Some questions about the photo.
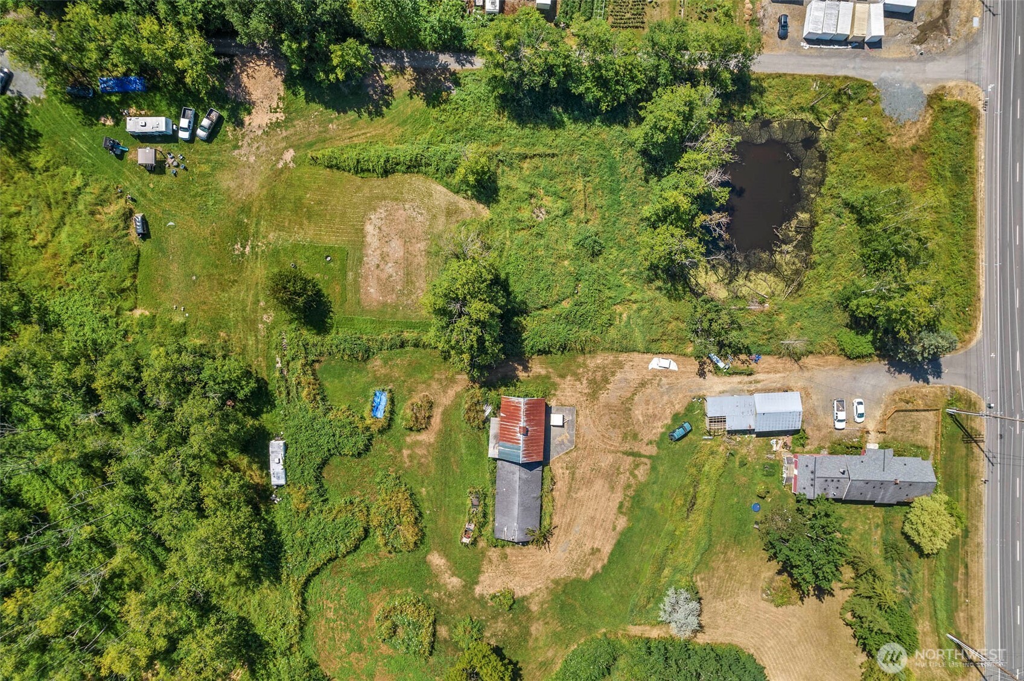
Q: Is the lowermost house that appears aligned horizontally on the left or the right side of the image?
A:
right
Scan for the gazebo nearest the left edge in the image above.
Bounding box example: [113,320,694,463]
[133,147,156,165]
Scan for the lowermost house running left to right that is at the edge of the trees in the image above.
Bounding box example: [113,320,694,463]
[791,443,941,505]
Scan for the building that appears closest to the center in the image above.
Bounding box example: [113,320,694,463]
[500,397,548,463]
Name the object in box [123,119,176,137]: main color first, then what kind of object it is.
white trailer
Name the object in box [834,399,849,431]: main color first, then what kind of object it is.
white vehicle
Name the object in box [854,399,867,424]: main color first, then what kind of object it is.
white vehicle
